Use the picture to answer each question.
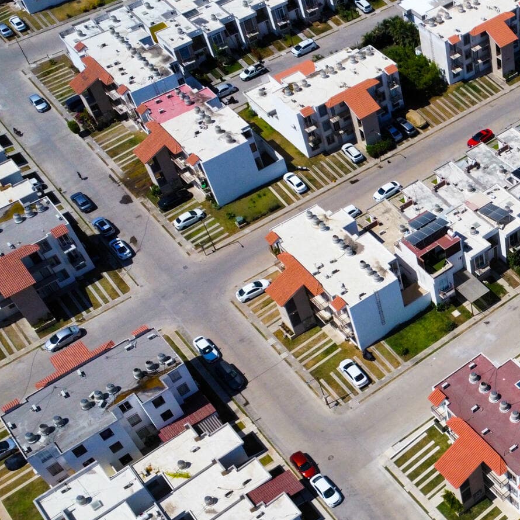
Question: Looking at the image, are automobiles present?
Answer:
Yes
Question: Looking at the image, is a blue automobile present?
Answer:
Yes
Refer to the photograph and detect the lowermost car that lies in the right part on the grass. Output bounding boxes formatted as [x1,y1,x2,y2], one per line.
[338,359,370,388]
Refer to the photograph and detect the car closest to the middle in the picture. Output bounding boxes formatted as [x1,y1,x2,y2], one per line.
[234,278,271,303]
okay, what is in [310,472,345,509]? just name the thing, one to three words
car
